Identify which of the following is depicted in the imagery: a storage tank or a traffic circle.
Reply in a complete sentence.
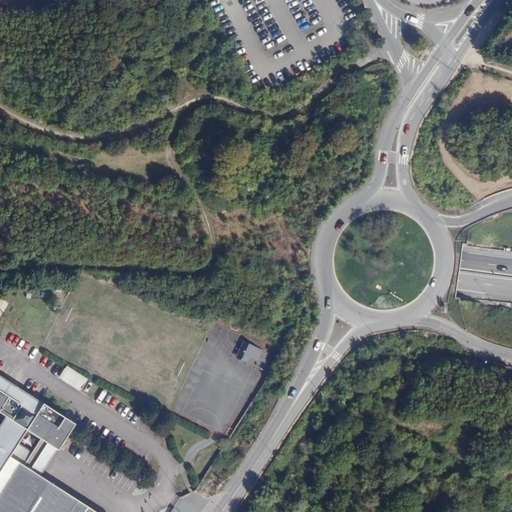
Visible in the photo is a traffic circle.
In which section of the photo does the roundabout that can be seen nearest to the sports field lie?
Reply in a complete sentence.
Look in the right portion of the view to spot the roundabout that can be seen nearest to the sports field.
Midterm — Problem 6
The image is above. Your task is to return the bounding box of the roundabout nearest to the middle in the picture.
[314,189,454,329]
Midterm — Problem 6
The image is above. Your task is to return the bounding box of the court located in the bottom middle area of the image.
[173,322,268,431]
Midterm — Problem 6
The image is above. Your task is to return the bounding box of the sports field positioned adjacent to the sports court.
[45,272,206,406]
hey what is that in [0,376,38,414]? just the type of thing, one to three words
building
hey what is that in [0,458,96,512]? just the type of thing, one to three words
building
